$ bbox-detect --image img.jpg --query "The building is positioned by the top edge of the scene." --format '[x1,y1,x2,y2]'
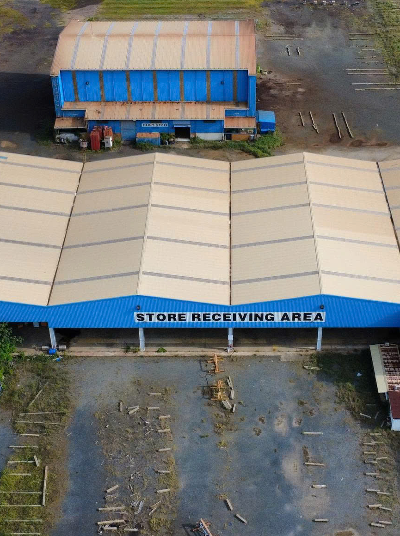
[46,18,258,142]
